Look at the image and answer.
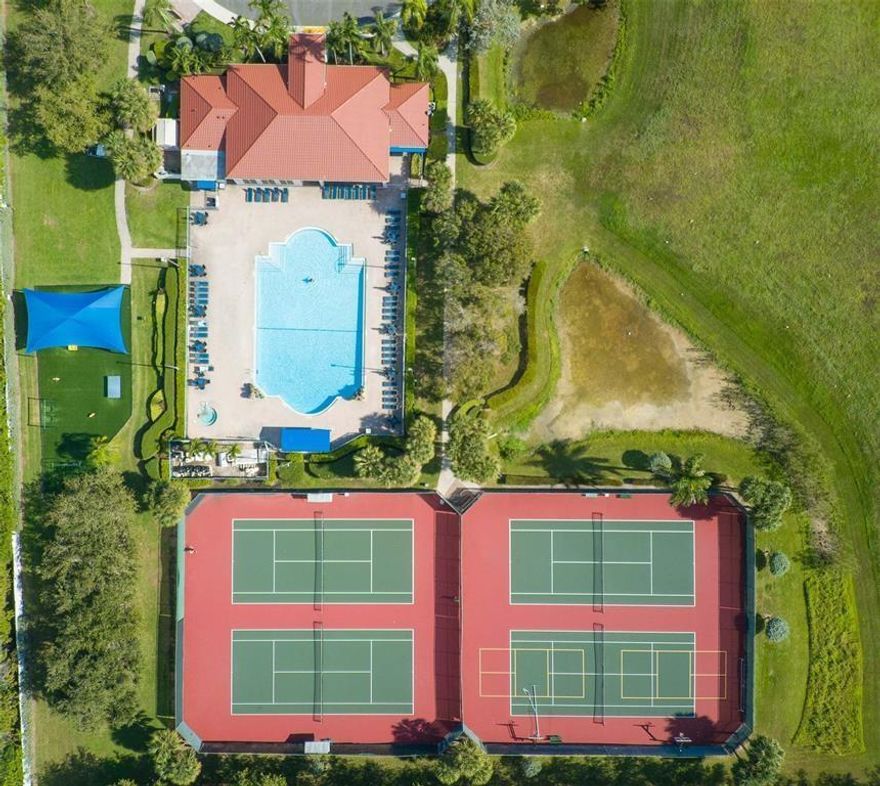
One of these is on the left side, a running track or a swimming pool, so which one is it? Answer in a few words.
swimming pool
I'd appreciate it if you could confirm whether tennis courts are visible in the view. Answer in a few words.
Yes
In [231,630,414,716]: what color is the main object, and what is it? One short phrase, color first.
green tennis court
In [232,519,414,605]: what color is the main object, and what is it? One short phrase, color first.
green tennis court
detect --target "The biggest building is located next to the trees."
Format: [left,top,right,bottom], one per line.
[180,33,430,191]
